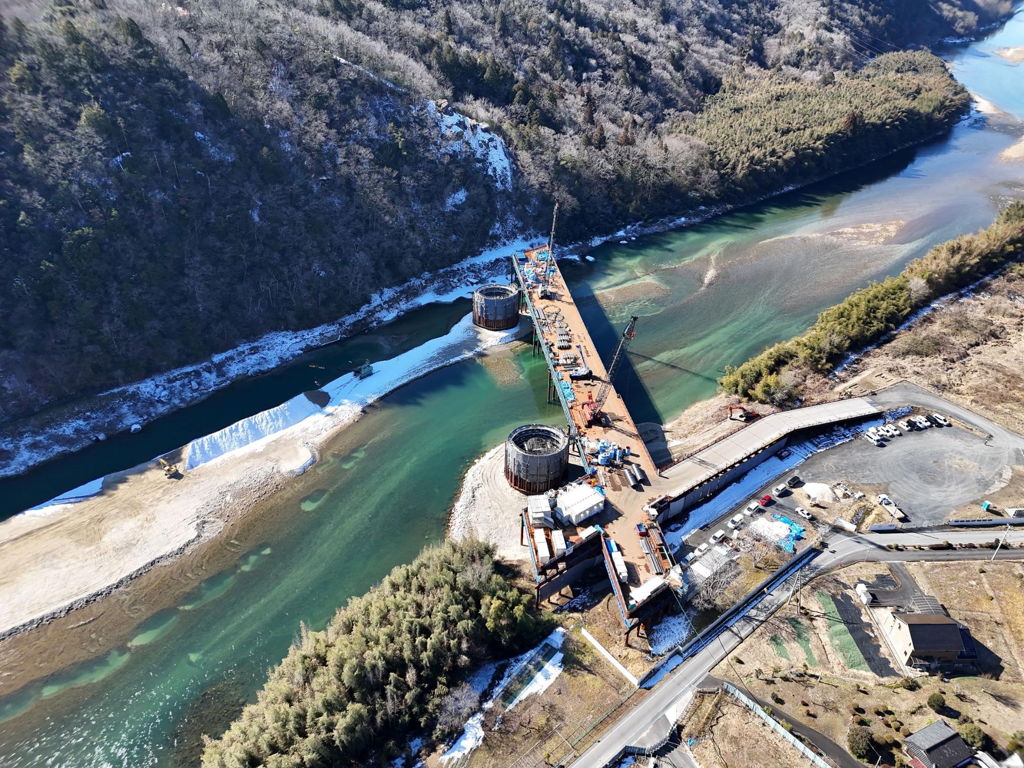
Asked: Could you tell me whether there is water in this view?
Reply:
Yes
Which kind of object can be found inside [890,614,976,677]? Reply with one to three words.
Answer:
house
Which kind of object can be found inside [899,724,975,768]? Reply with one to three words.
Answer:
house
